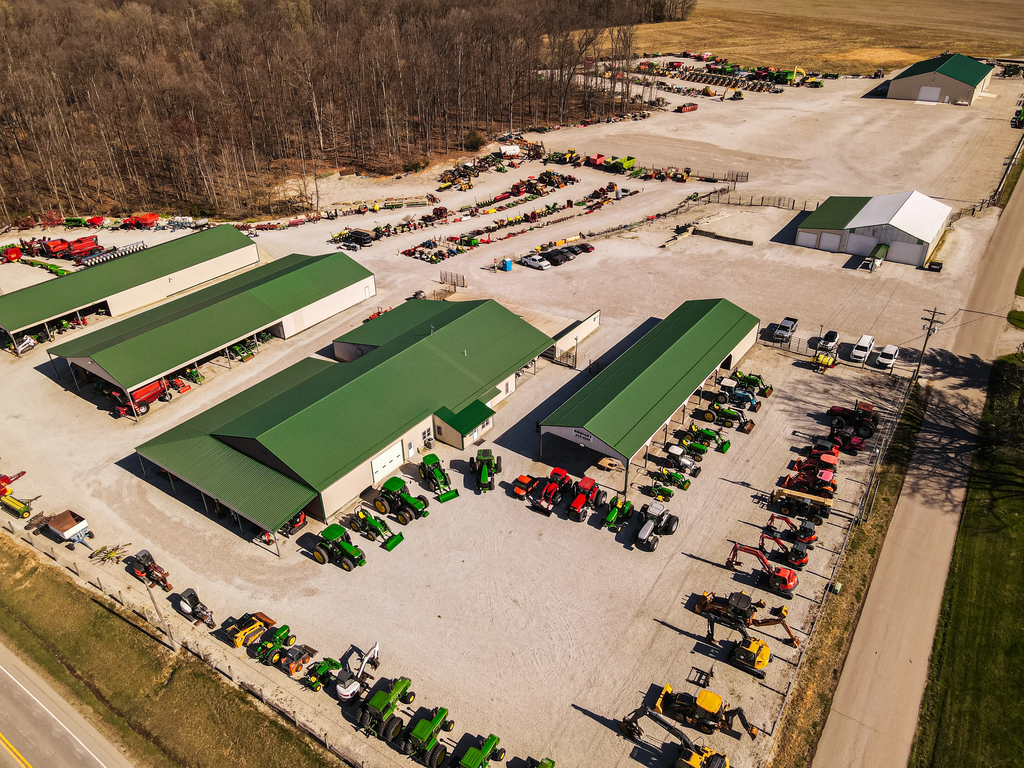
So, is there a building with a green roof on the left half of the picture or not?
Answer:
Yes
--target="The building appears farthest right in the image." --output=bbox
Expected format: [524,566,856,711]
[887,53,993,105]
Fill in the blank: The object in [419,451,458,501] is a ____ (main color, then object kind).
green work vehicle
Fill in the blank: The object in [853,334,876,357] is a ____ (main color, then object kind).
white car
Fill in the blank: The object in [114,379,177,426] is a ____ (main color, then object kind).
red work vehicle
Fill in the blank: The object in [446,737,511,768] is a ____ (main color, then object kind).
green work vehicle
